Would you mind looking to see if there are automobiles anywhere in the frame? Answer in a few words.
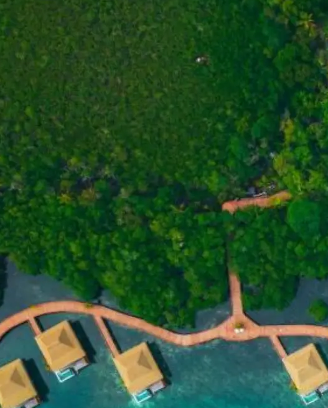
No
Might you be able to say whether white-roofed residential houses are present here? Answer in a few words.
No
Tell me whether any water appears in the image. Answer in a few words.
Yes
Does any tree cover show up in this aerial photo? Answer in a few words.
Yes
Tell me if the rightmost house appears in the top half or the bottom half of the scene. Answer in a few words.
bottom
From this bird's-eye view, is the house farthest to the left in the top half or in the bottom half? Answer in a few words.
bottom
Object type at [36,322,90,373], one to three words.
house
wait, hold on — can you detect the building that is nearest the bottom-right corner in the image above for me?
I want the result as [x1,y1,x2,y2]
[282,344,328,394]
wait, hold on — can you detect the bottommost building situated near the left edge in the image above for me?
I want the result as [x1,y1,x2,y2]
[0,359,42,408]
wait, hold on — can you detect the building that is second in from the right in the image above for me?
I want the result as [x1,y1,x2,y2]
[114,343,166,393]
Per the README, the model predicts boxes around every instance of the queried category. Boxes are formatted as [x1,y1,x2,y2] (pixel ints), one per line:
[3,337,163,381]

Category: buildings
[282,344,328,394]
[114,343,166,393]
[0,359,42,408]
[36,322,90,373]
